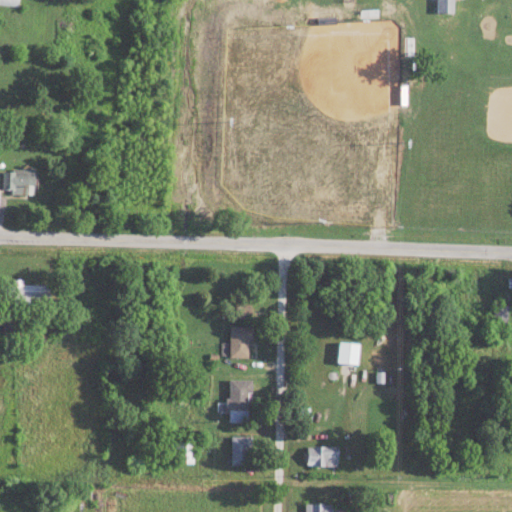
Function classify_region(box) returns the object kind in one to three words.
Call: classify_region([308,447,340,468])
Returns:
house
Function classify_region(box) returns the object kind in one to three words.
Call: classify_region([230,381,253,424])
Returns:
house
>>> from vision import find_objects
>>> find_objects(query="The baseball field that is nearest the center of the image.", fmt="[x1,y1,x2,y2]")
[224,20,400,227]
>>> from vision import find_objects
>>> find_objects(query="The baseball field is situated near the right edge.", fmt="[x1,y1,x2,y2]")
[488,86,512,143]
